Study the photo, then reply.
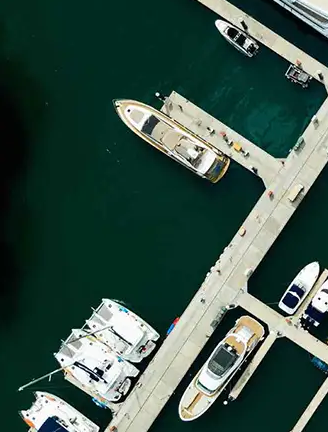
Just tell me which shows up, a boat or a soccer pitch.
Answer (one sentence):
It is a boat that can be seen here.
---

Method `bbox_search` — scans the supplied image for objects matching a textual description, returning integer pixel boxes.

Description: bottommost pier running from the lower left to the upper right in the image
[289,374,328,432]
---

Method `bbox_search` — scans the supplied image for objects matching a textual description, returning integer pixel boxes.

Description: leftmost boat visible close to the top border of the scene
[216,21,259,58]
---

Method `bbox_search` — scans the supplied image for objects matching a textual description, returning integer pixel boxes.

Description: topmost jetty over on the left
[64,371,121,412]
